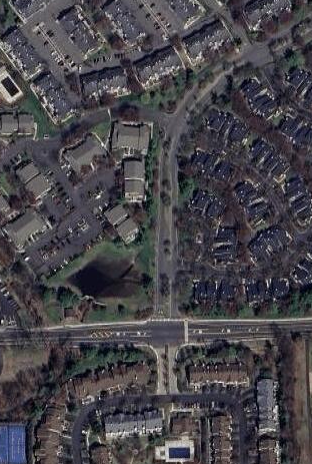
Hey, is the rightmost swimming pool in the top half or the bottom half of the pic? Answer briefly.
bottom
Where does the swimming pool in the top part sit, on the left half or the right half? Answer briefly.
left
